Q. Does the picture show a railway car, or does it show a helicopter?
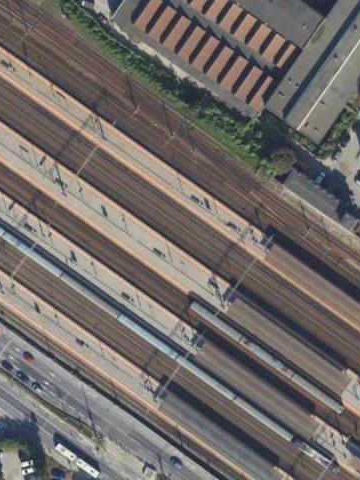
railway car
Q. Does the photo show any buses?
Yes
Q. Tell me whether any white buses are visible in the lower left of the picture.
Yes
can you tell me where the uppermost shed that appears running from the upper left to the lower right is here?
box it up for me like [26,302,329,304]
[283,171,339,221]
